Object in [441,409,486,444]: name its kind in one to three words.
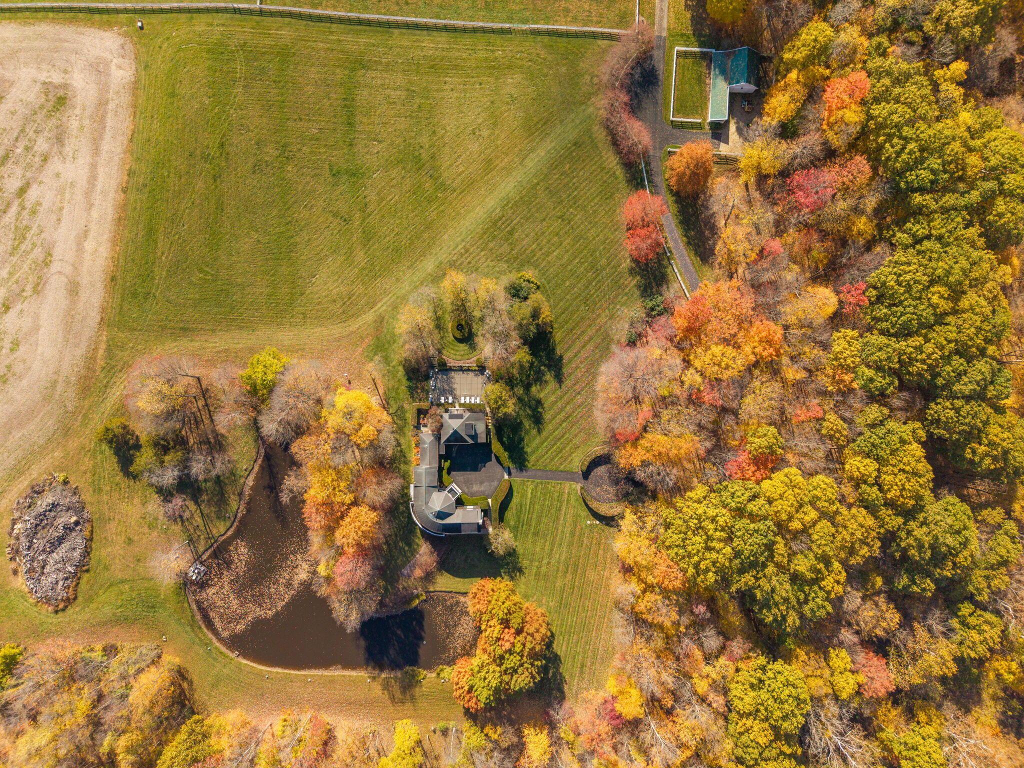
house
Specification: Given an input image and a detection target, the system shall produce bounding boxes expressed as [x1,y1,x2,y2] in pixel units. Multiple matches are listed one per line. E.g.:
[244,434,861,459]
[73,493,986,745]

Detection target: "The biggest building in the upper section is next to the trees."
[708,46,760,123]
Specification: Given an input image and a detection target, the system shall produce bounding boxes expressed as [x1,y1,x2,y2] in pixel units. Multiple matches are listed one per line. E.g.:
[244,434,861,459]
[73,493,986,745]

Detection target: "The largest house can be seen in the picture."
[410,433,488,536]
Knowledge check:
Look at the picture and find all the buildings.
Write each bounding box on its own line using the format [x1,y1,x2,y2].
[410,433,488,536]
[708,46,760,123]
